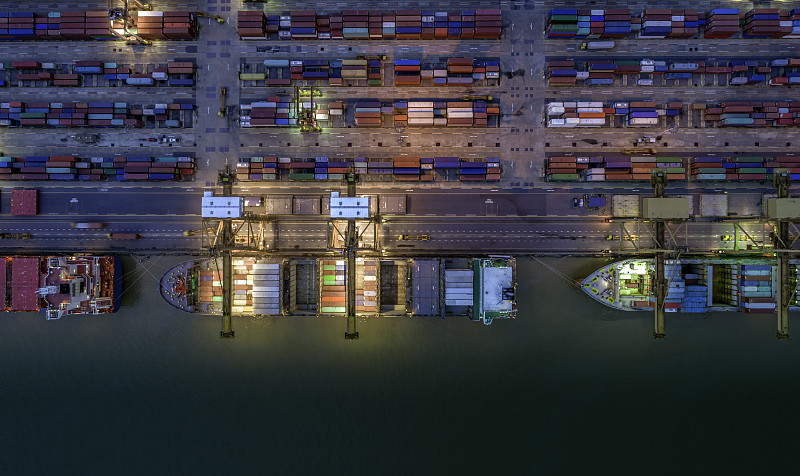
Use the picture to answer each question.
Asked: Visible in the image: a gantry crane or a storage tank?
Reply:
gantry crane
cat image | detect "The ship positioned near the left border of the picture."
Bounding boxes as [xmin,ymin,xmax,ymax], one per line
[0,256,126,320]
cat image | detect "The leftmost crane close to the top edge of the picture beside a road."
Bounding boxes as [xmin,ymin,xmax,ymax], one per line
[105,0,151,43]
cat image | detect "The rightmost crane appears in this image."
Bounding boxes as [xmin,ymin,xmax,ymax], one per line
[721,165,800,341]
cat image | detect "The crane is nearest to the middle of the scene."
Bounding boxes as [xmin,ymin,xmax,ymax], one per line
[325,164,384,341]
